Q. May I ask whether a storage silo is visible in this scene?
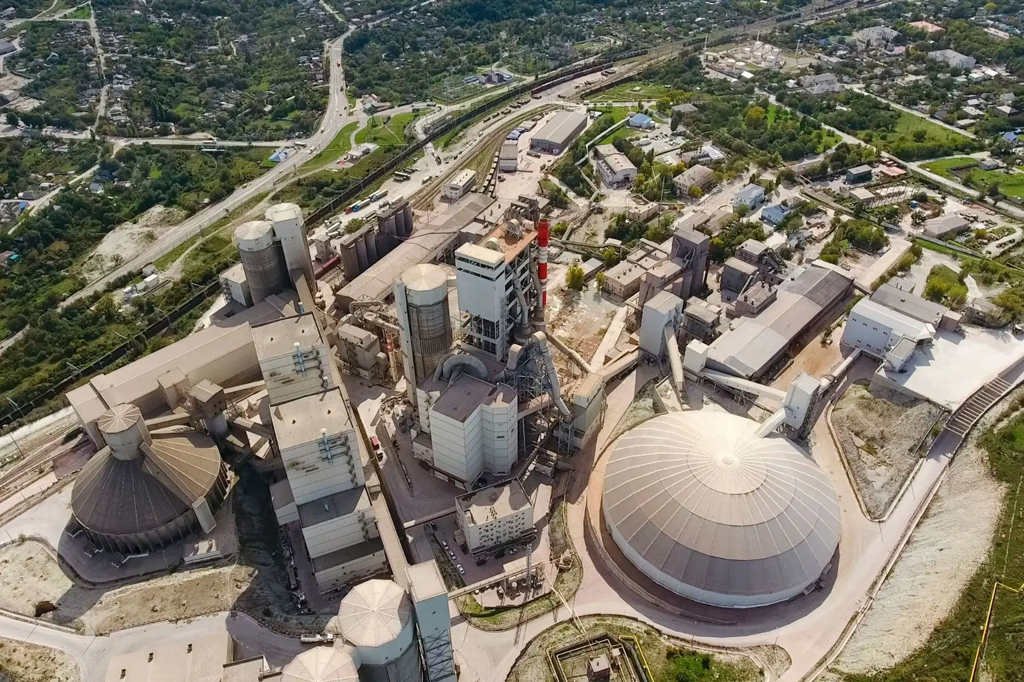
Yes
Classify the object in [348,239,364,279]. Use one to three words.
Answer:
silo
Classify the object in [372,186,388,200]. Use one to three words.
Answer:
vehicle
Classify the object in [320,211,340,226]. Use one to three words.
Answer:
vehicle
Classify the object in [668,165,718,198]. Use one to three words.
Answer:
house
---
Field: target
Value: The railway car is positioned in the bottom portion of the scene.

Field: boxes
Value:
[63,425,85,442]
